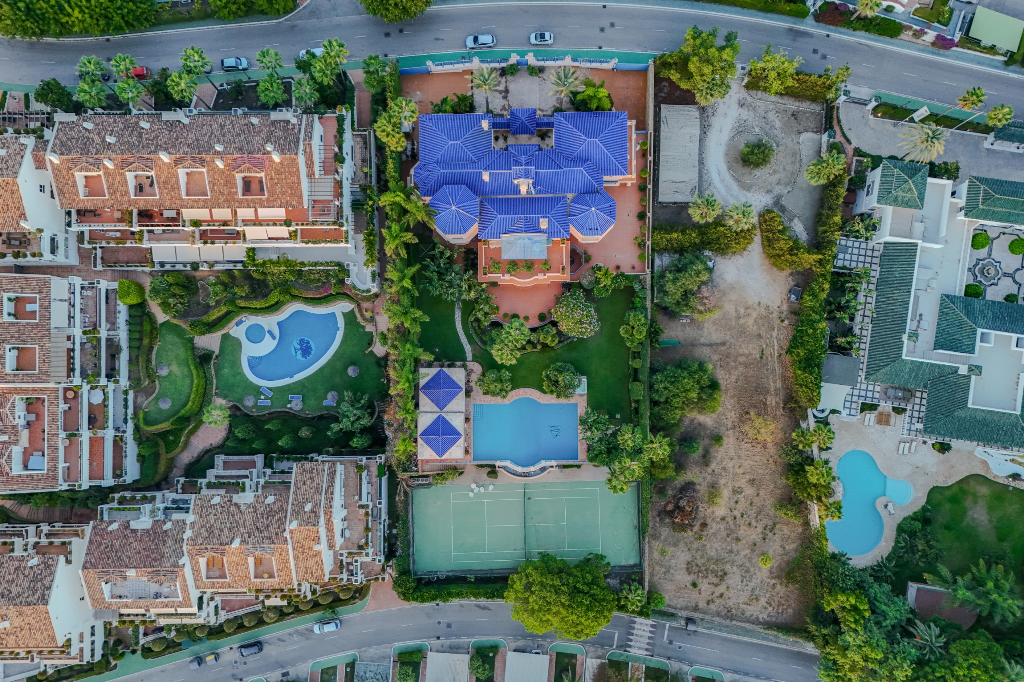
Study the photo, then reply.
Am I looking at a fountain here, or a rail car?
fountain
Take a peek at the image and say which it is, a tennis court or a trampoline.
tennis court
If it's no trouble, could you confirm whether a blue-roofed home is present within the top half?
Yes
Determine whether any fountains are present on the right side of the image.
Yes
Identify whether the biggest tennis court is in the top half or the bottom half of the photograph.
bottom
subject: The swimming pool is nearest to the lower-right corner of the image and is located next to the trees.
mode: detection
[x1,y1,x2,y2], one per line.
[825,449,915,556]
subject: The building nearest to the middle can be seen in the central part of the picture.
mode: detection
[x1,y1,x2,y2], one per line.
[419,367,465,411]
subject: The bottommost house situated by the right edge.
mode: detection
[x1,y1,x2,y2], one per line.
[853,159,1024,448]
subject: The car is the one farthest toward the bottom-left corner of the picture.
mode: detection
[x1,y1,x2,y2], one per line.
[234,642,263,660]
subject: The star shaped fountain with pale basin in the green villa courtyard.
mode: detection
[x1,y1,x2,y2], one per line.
[973,255,1005,287]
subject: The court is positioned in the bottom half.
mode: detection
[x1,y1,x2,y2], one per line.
[413,482,640,573]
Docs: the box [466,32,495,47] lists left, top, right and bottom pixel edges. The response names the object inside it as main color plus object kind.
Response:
blue car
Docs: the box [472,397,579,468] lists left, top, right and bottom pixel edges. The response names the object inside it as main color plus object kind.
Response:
blue swimming pool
